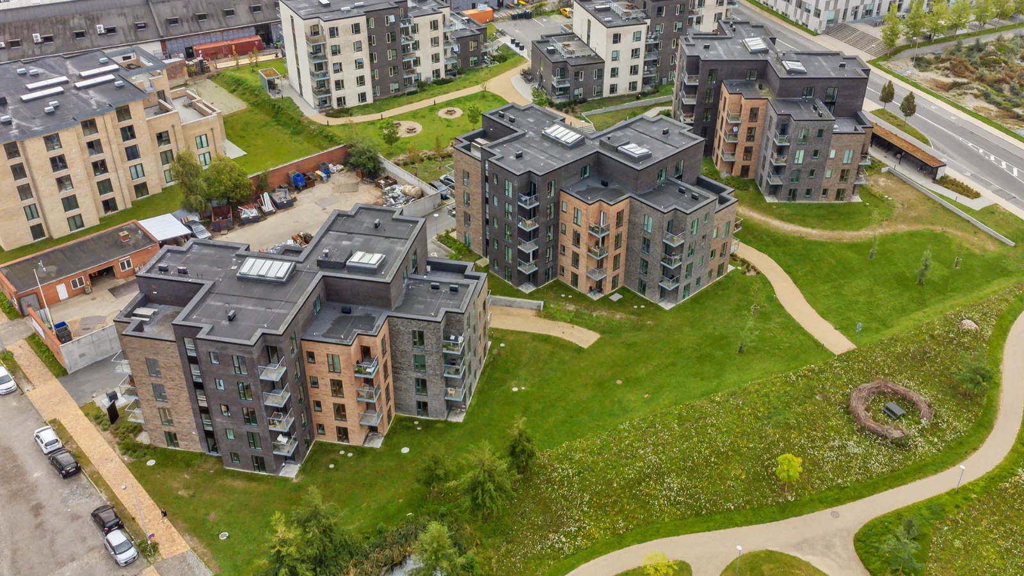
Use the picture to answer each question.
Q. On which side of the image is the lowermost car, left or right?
left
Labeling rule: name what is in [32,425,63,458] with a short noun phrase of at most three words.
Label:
car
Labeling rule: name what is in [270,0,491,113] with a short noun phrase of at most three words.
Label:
building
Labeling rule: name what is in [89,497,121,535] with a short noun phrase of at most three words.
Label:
car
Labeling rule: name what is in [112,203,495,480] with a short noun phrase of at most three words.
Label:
building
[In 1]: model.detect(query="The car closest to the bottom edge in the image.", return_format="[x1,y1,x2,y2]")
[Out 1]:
[103,526,139,572]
